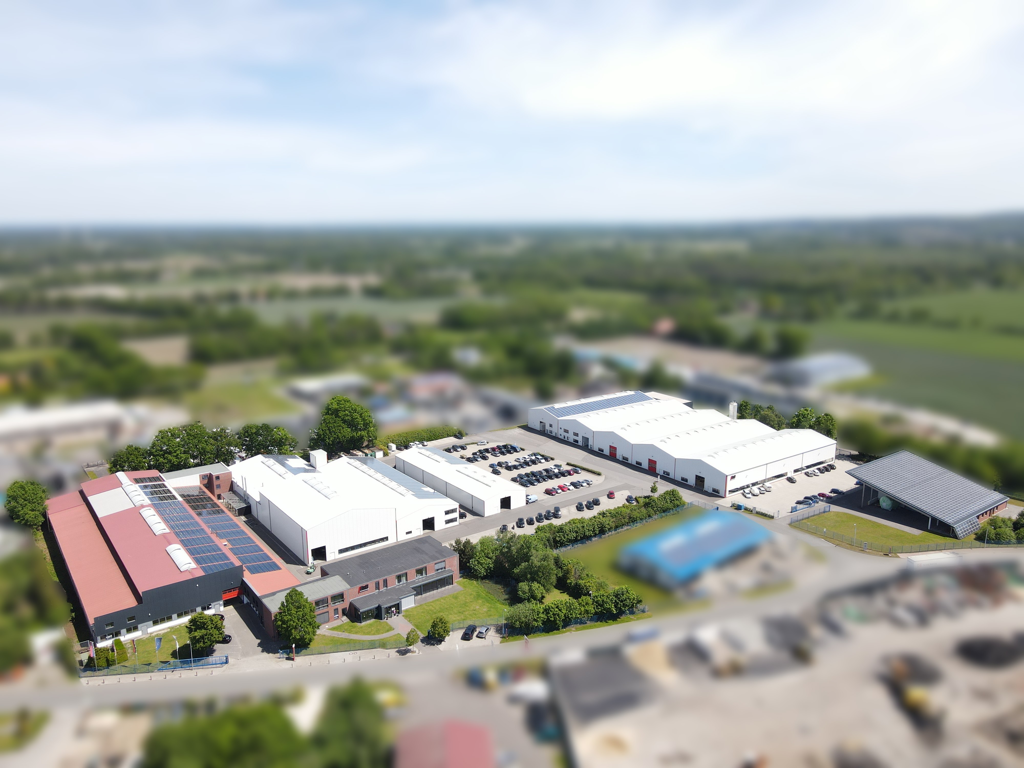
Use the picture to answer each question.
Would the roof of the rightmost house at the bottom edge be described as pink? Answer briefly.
Yes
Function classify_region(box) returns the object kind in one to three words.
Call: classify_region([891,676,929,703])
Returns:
work vehicle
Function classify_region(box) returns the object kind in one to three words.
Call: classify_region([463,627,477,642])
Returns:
car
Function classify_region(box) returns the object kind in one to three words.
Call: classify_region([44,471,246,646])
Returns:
building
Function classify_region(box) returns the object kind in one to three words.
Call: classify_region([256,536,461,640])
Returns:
building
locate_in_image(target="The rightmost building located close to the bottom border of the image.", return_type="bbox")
[416,715,501,768]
